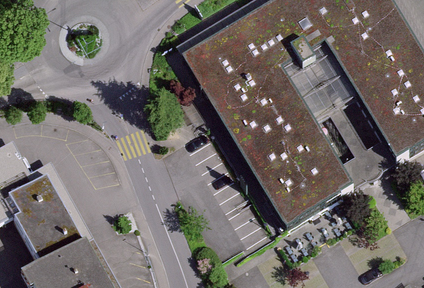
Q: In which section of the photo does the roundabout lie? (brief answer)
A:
top left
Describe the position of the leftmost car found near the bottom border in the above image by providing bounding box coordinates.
[359,268,382,283]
